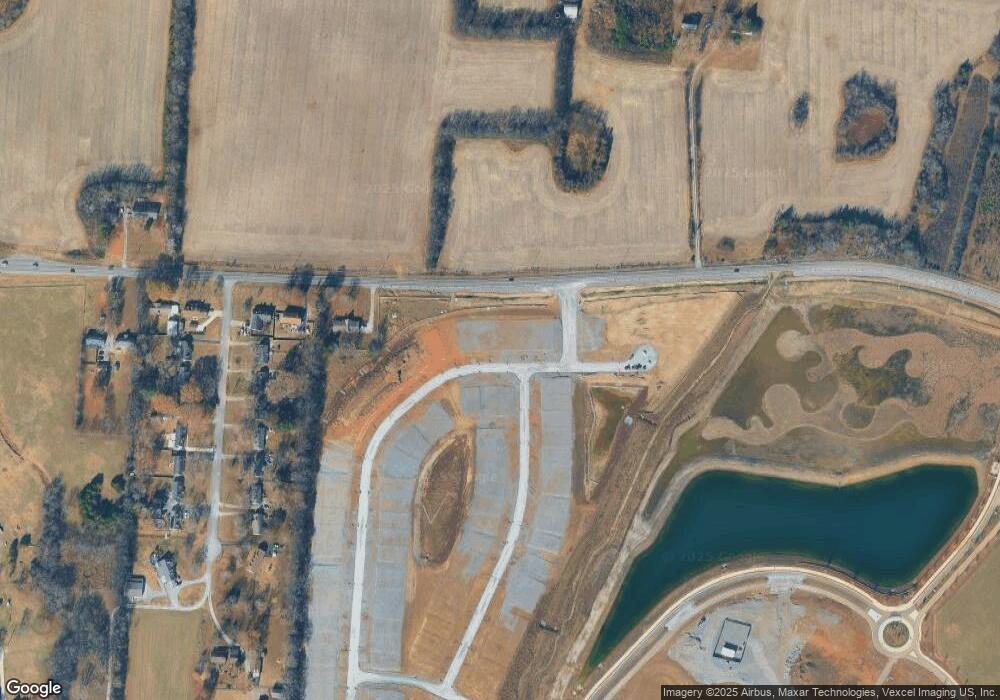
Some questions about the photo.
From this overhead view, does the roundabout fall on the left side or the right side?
right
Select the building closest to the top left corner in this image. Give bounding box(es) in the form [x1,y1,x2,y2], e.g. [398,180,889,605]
[132,204,159,221]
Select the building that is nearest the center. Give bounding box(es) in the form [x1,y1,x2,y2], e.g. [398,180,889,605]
[333,318,361,333]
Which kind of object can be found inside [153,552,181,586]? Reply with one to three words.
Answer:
house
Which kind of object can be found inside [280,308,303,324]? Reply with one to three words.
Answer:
house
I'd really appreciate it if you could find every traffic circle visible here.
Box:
[868,609,920,657]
